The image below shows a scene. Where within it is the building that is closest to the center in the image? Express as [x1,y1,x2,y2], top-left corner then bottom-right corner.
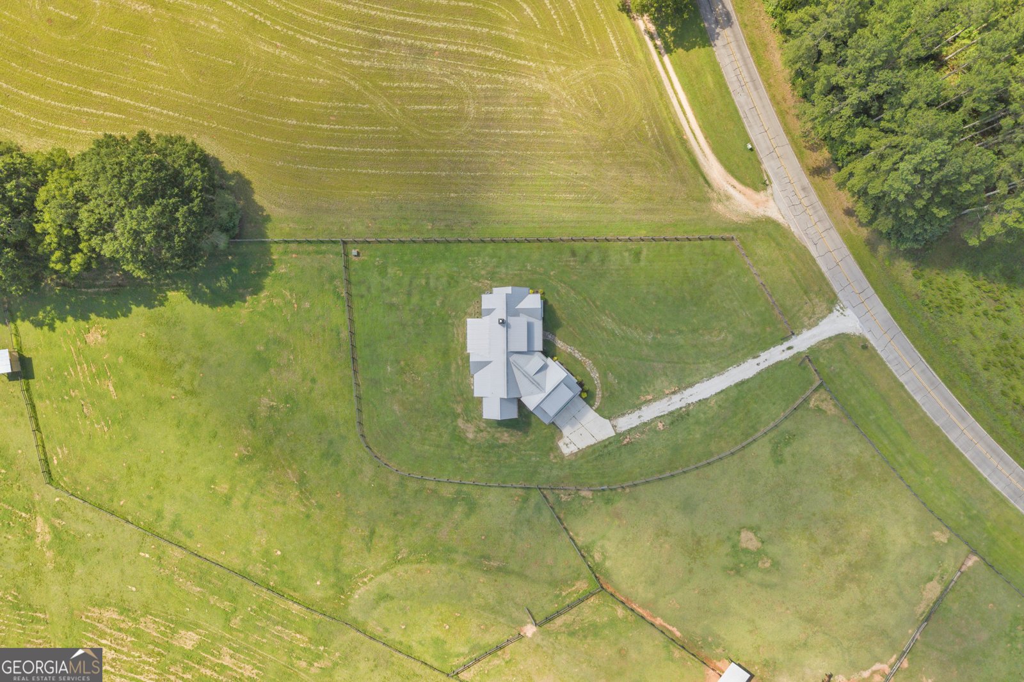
[467,286,581,424]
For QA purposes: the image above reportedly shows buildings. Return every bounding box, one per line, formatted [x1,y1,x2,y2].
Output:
[467,286,581,424]
[0,349,22,373]
[719,658,750,682]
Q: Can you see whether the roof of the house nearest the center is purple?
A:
No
